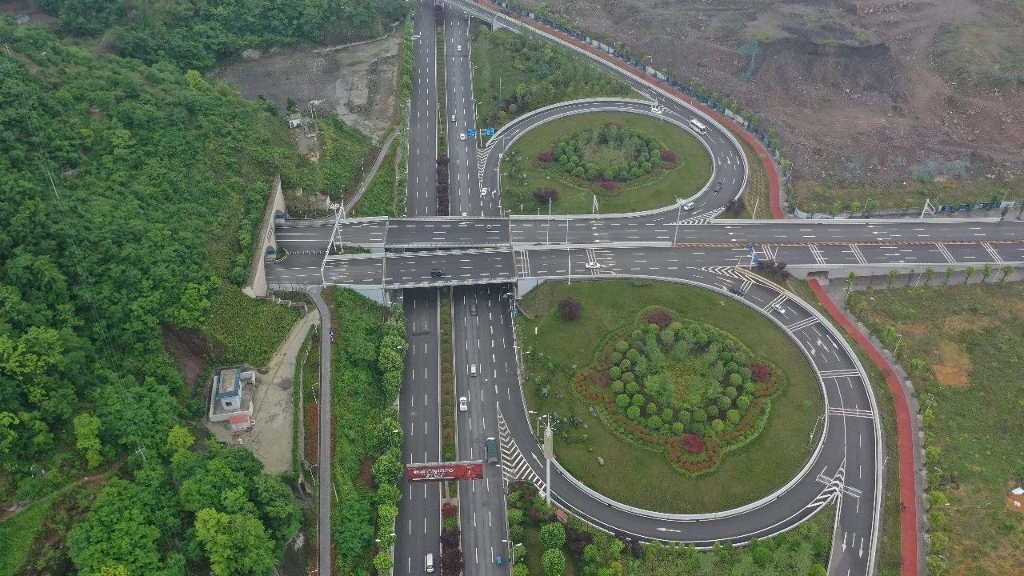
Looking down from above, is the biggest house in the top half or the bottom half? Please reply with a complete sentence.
The bottom half of the photo is where the biggest house is.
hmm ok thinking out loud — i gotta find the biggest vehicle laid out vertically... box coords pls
[486,434,498,466]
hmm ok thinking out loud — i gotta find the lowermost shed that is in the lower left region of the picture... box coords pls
[229,413,251,432]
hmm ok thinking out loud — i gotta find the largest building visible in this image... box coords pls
[214,370,246,414]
